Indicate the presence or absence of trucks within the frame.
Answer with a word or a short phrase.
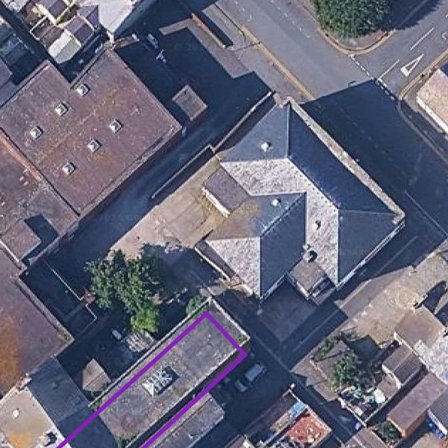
No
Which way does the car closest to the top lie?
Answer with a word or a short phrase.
on a diagonal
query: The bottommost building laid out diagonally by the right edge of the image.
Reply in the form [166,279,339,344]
[387,372,447,436]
